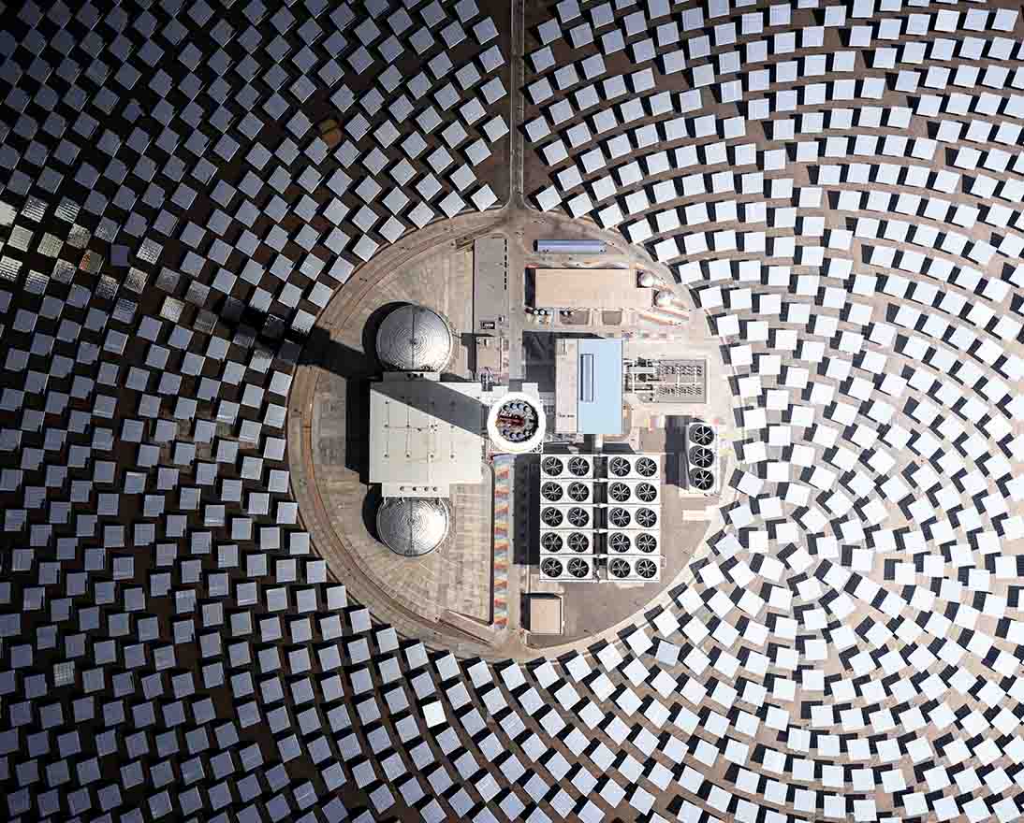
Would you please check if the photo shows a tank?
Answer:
Yes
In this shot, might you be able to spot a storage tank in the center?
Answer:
Yes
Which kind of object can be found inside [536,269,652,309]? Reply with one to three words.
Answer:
building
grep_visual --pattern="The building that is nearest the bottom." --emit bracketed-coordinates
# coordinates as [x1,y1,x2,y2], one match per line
[526,594,562,637]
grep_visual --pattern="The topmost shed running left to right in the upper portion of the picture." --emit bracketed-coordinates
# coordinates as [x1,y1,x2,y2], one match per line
[537,241,608,253]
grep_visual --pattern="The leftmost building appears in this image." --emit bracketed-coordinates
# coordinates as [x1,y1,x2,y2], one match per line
[370,371,483,502]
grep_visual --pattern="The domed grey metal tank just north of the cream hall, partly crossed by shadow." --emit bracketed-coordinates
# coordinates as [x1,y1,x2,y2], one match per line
[376,304,453,372]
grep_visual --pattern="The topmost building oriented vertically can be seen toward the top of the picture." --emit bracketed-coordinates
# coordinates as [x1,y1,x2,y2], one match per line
[475,238,506,334]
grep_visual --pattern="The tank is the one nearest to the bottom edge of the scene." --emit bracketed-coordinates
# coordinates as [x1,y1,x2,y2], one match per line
[376,497,450,557]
